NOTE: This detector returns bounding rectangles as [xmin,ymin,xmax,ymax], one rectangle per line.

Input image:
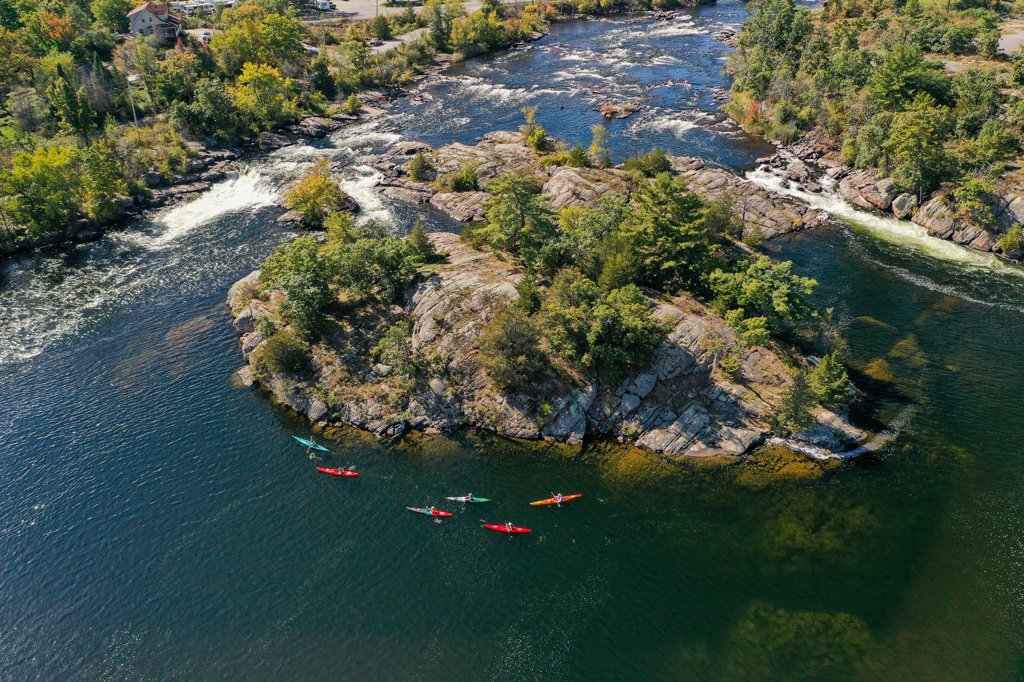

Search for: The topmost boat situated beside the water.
[292,435,329,451]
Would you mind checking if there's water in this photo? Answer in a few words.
Yes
